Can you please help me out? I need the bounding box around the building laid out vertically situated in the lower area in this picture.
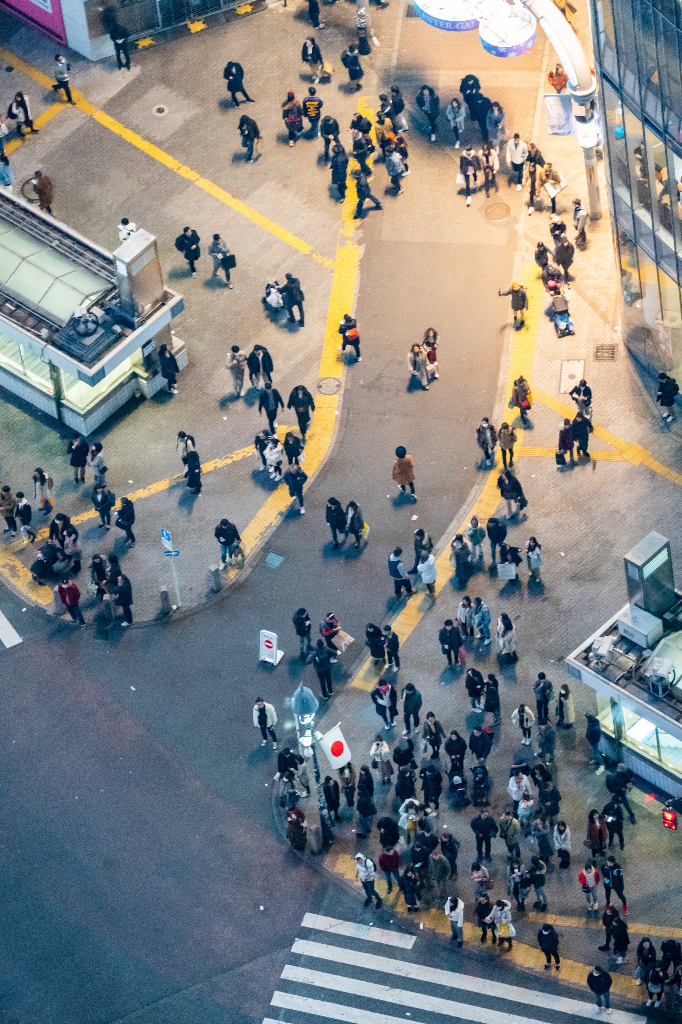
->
[560,527,682,800]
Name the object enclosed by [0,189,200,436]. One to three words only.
building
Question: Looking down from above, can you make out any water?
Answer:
No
